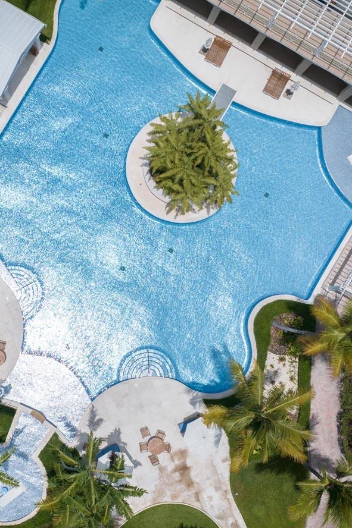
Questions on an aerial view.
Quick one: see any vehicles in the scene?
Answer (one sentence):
No, the photo shows no vehicle.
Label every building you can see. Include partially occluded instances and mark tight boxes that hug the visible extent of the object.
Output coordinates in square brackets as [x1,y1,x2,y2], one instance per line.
[0,0,46,105]
[164,0,352,112]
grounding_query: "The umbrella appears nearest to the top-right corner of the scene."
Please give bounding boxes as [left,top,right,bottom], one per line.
[283,79,303,98]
